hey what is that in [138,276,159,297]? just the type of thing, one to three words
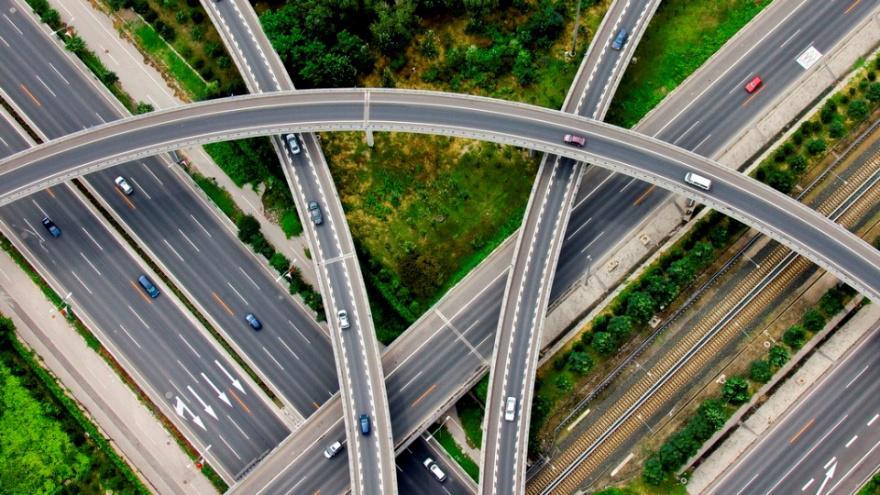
car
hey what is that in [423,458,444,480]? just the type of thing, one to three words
car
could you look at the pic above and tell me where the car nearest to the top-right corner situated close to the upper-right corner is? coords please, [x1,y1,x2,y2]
[744,76,763,94]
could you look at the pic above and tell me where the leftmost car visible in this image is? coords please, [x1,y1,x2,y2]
[41,217,61,239]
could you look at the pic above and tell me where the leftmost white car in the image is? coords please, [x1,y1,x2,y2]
[114,176,135,196]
